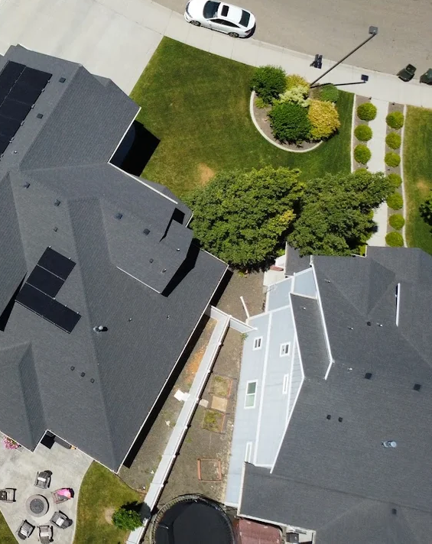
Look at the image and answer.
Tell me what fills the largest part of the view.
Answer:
buildings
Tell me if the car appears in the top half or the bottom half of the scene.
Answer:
top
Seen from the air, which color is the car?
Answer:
white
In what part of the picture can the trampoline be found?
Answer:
bottom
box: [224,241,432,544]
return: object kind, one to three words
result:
house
